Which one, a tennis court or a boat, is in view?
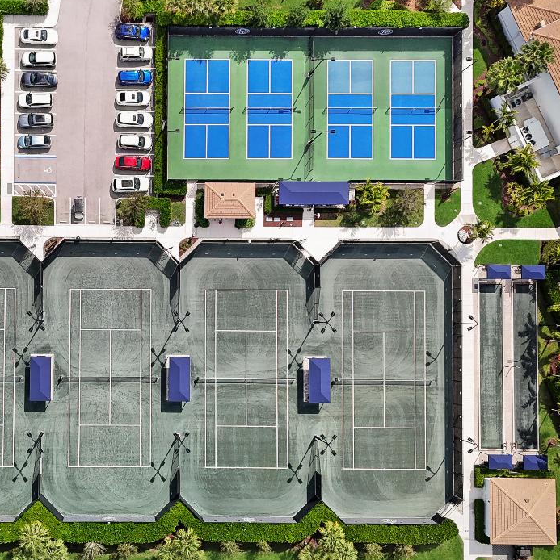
tennis court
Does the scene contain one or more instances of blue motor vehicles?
Yes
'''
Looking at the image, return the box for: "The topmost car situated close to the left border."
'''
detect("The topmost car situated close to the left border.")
[20,25,57,43]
